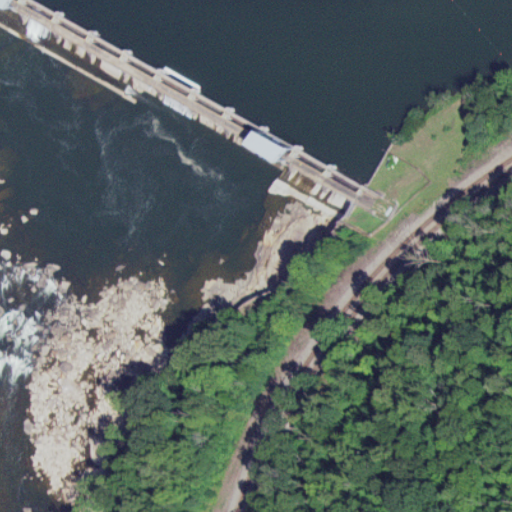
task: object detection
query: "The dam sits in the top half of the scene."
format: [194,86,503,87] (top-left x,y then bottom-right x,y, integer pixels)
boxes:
[0,0,388,210]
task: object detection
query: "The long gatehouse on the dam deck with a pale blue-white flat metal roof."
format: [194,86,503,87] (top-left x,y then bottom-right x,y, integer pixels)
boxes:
[242,130,288,165]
